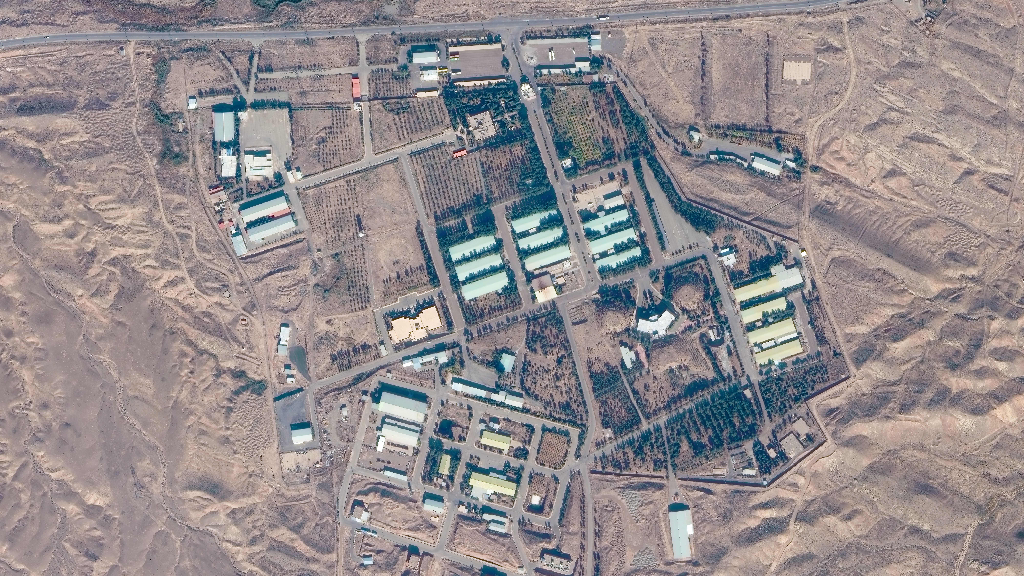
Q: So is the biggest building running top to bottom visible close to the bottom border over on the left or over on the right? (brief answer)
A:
right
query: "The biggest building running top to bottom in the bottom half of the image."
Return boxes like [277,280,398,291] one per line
[670,510,692,559]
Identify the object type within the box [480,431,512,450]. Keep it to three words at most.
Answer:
building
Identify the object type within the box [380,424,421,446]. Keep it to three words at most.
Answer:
building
